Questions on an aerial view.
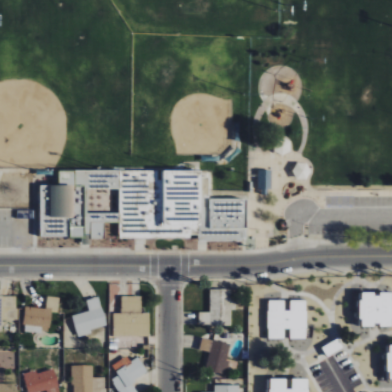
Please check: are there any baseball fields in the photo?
Yes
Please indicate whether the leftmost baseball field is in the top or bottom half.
top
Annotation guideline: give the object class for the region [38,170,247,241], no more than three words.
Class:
building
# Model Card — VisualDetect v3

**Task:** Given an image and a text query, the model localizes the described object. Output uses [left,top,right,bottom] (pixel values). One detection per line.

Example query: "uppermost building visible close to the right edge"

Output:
[356,292,392,327]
